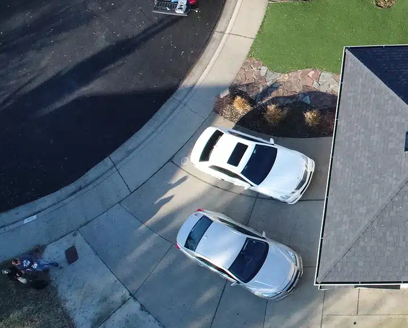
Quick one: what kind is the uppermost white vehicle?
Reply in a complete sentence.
The uppermost white vehicle appears to be a car.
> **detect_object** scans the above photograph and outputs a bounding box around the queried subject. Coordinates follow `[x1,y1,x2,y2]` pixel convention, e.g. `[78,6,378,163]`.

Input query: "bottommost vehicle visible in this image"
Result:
[170,212,304,301]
